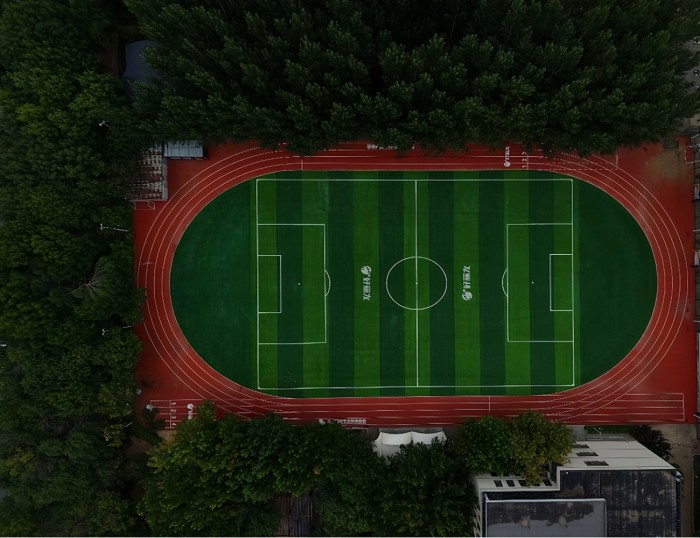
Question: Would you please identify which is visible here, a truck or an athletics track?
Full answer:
I can see an athletics track in this picture.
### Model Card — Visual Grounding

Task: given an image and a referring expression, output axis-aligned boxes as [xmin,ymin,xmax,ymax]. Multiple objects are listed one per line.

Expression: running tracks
[134,136,697,432]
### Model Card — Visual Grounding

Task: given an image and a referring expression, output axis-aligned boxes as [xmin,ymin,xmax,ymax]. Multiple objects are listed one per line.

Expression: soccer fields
[171,170,658,398]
